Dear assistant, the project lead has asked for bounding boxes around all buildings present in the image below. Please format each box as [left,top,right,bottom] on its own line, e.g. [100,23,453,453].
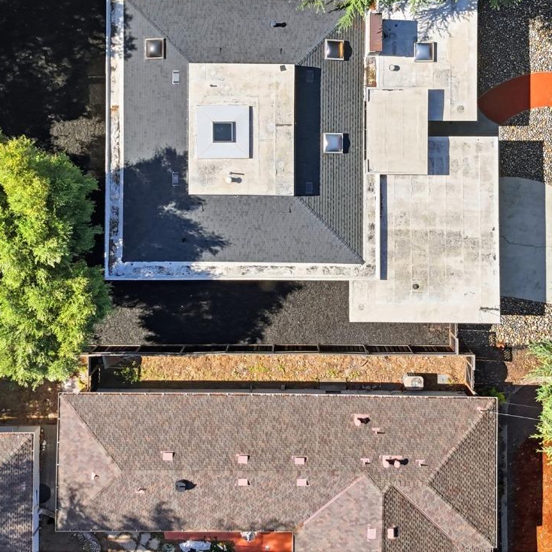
[53,385,500,552]
[106,0,499,323]
[0,424,42,552]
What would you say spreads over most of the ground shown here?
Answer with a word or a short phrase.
buildings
